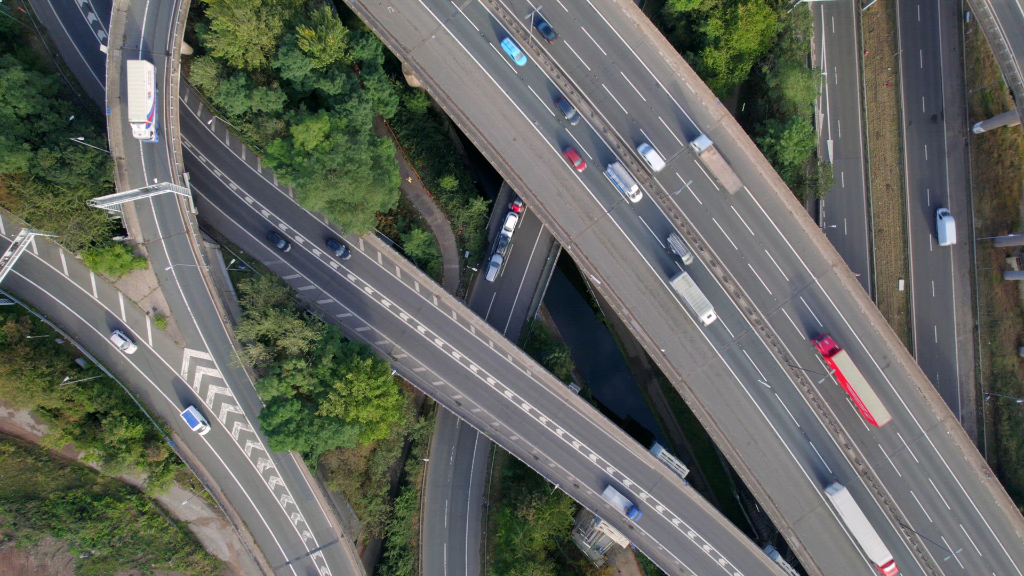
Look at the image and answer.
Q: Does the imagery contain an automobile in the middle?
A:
Yes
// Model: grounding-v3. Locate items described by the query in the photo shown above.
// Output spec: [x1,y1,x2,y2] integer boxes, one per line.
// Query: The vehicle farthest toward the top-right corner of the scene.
[934,209,956,244]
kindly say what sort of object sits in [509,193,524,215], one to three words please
car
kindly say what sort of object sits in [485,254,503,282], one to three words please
car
